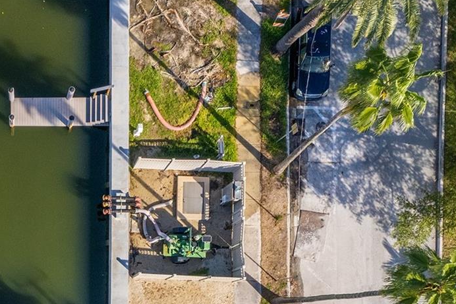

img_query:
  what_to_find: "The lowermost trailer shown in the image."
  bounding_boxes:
[164,226,236,264]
